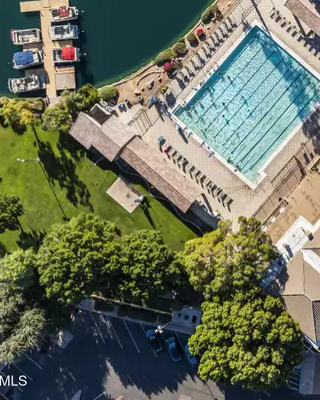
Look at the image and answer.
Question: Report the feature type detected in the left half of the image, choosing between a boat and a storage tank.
boat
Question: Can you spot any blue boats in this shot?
Yes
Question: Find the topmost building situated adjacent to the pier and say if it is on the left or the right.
left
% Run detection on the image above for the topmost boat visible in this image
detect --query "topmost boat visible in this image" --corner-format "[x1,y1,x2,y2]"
[47,6,84,22]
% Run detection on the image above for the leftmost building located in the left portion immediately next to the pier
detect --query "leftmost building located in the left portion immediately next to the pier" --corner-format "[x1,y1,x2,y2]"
[69,113,140,161]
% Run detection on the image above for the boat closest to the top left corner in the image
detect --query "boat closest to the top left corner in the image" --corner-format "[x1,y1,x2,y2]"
[9,29,41,44]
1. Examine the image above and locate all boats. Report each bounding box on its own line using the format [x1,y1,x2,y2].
[9,29,41,44]
[49,25,85,40]
[50,47,87,62]
[0,76,43,94]
[47,6,84,22]
[5,51,43,69]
